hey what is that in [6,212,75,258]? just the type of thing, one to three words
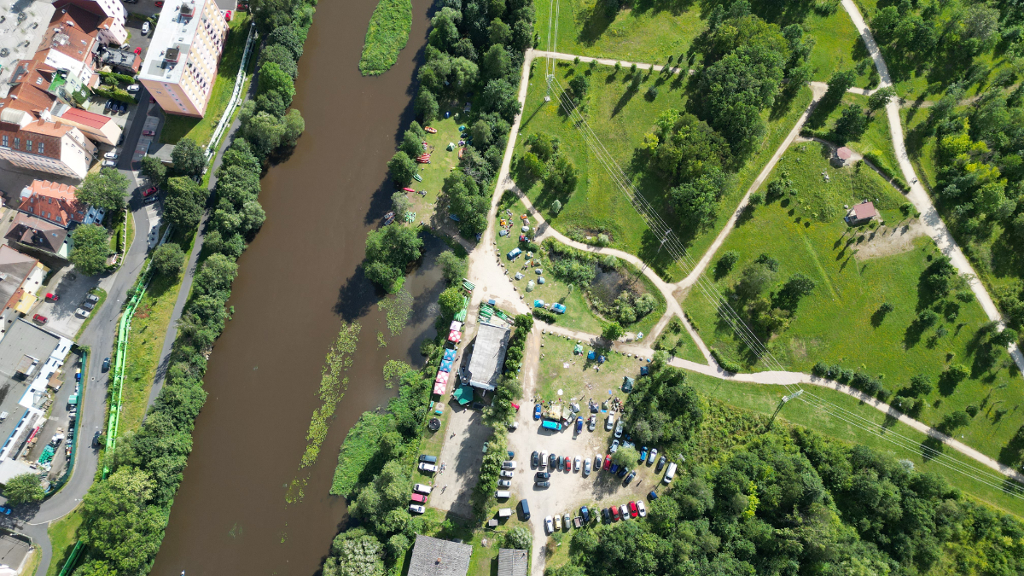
house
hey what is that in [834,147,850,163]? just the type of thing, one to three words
gazebo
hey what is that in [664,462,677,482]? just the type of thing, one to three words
vehicle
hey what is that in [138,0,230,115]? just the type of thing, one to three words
building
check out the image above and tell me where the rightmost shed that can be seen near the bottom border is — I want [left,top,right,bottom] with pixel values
[498,548,527,576]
